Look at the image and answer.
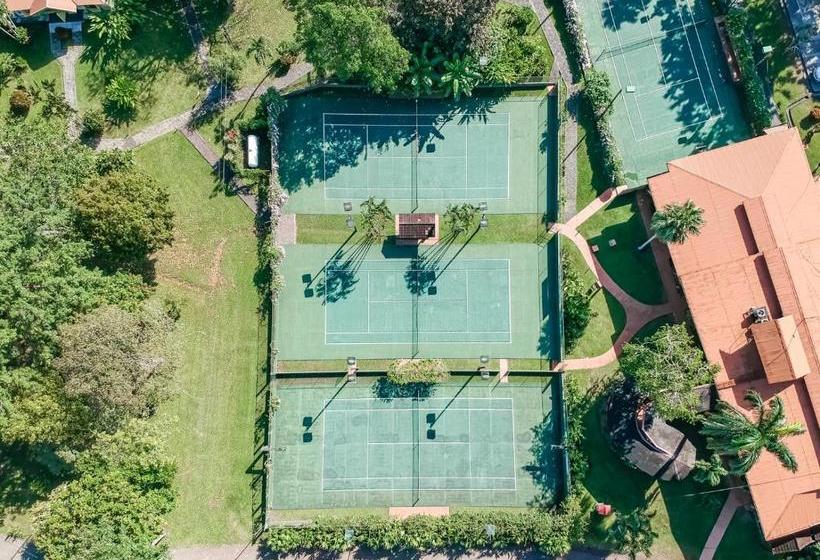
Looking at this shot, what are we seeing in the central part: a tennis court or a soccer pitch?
tennis court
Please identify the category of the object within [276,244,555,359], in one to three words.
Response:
tennis court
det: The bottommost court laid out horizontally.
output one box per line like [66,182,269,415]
[269,387,564,510]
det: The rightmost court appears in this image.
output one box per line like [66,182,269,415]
[577,0,763,187]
